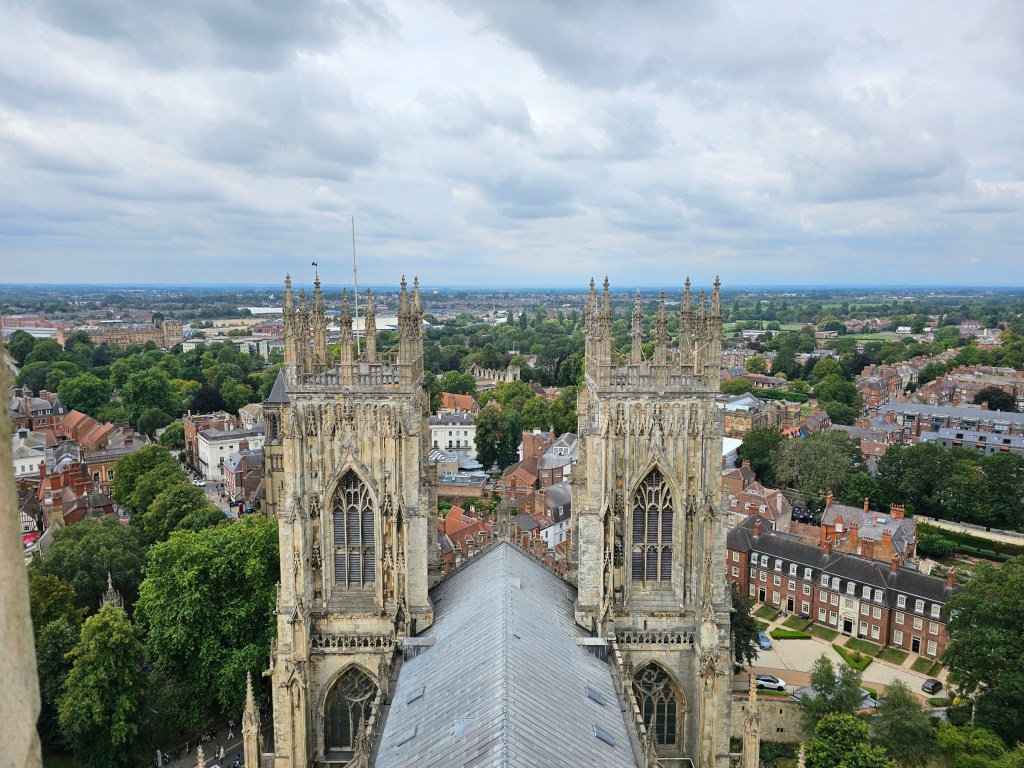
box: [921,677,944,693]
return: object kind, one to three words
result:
car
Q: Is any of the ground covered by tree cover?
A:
Yes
